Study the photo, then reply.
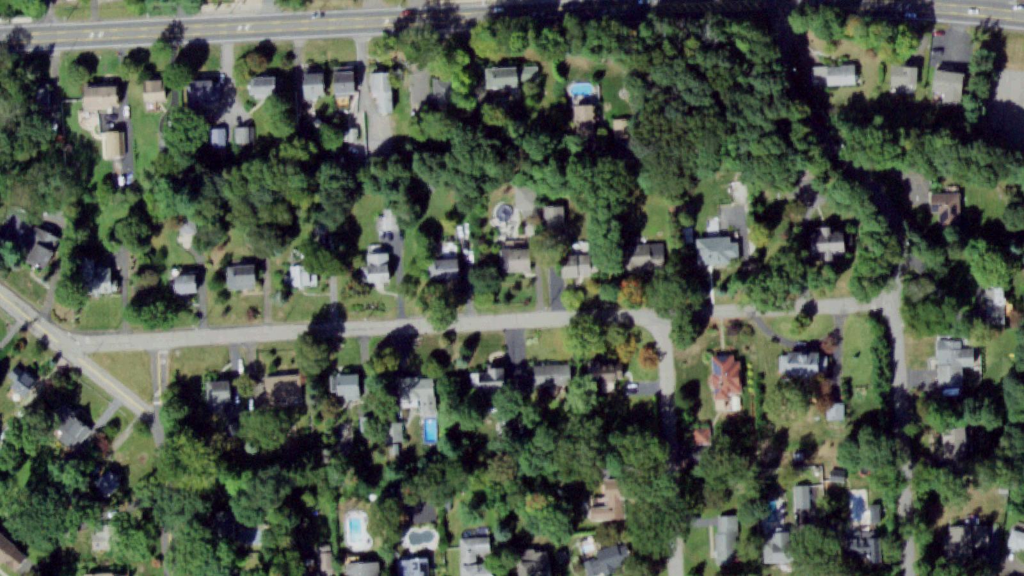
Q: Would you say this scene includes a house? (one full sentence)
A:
Yes, there is a house in the image.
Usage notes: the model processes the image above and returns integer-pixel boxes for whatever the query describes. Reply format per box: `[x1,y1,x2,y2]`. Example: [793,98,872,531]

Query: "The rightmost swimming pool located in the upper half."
[570,83,594,96]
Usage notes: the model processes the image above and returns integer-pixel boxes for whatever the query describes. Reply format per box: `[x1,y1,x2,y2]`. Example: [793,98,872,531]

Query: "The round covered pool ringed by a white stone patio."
[495,203,514,222]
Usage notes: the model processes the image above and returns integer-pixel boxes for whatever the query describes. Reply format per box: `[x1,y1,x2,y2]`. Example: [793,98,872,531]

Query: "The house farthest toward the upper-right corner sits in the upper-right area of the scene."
[932,71,964,101]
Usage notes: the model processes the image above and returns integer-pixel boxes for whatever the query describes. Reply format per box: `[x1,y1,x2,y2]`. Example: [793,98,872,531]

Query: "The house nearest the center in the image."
[502,241,531,275]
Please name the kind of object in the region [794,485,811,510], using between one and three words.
shed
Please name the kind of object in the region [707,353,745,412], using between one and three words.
house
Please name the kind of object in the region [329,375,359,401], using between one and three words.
house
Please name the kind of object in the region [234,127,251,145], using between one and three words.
building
